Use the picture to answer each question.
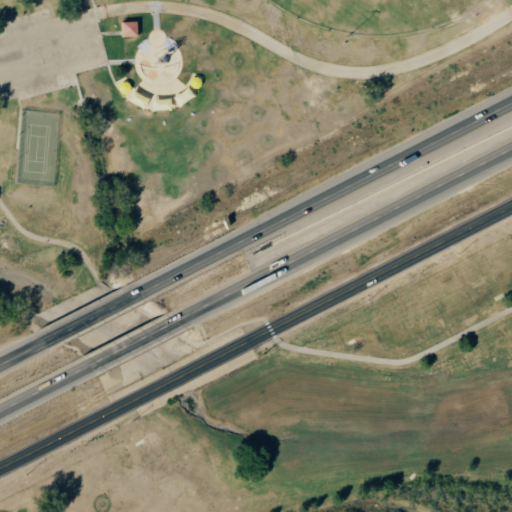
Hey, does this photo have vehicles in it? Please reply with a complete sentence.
Yes, the picture does show a vehicle.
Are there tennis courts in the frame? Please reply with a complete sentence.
Yes, this view includes a tennis court.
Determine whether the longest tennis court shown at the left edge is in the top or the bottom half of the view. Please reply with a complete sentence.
It is in the top half that the longest tennis court shown at the left edge appears.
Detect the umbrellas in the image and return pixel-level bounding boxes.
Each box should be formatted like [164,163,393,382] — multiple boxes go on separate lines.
[120,82,132,93]
[191,78,202,89]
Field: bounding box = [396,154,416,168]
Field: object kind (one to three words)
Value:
vehicle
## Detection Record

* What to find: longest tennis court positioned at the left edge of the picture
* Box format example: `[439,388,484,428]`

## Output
[17,110,60,186]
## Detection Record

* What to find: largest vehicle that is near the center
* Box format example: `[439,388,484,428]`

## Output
[241,270,286,296]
